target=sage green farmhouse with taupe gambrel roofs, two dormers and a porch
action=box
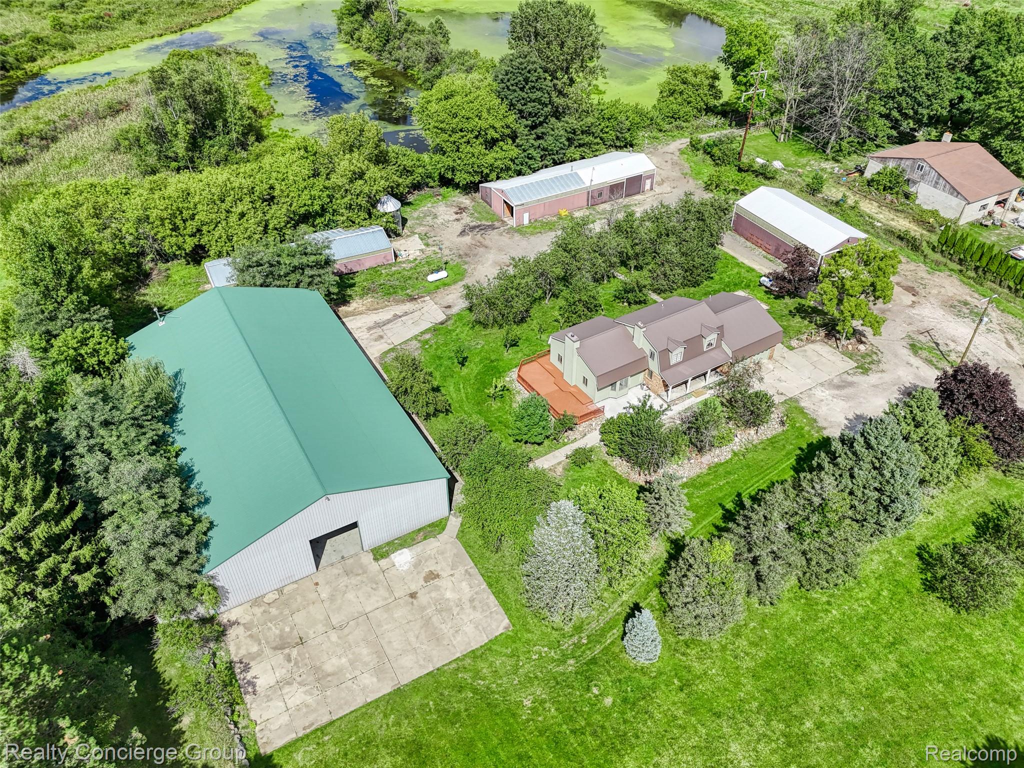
[549,291,782,405]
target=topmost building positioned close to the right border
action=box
[862,128,1024,225]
